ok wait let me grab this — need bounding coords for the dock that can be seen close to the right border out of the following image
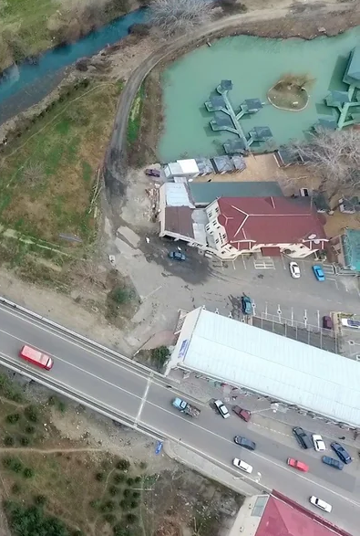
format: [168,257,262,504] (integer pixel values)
[335,87,360,134]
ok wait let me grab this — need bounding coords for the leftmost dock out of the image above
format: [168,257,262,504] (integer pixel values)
[223,91,255,152]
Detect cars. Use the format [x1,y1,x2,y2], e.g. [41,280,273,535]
[285,456,309,474]
[328,440,354,465]
[341,317,360,330]
[232,433,256,451]
[167,250,187,262]
[310,263,327,284]
[230,404,251,424]
[230,456,255,475]
[309,431,326,454]
[212,398,231,419]
[320,313,334,332]
[240,295,253,315]
[320,453,344,472]
[289,425,313,450]
[287,261,301,278]
[308,494,333,515]
[143,167,162,180]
